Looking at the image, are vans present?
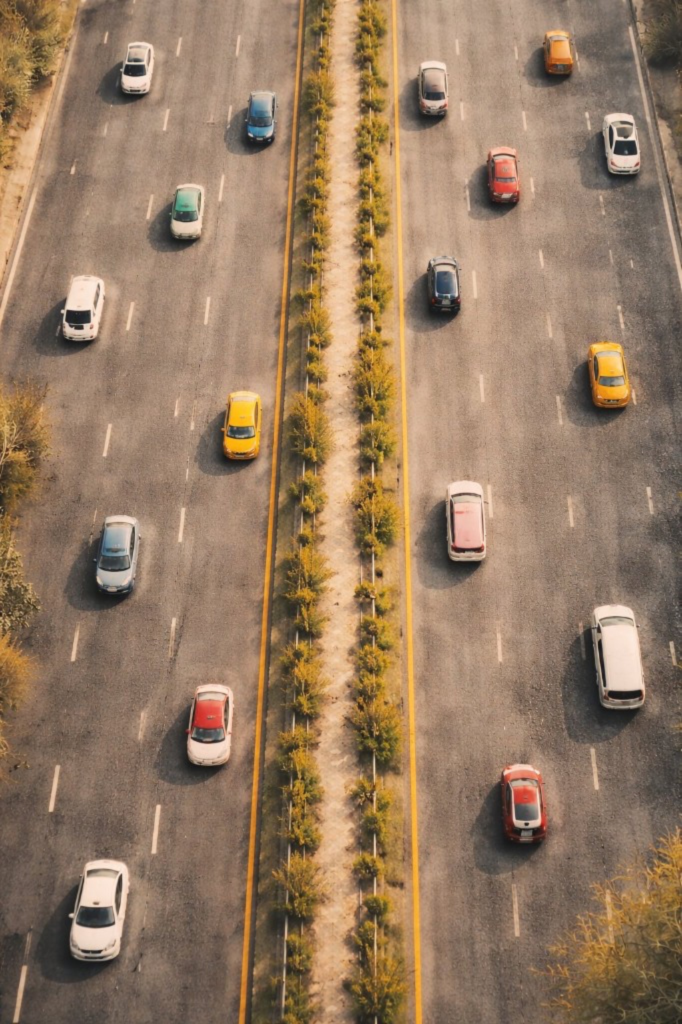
Yes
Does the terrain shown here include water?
No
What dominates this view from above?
paved ground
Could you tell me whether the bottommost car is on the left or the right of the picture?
left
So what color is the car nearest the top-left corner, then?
white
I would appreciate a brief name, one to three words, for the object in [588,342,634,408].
car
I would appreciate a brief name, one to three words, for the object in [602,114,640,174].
car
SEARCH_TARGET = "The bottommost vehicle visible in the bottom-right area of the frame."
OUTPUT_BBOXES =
[499,764,550,843]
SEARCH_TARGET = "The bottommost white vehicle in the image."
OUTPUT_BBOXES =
[67,860,130,960]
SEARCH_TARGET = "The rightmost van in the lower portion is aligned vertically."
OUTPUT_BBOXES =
[591,605,645,709]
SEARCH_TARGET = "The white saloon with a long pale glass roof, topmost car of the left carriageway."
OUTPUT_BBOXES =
[118,42,154,94]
